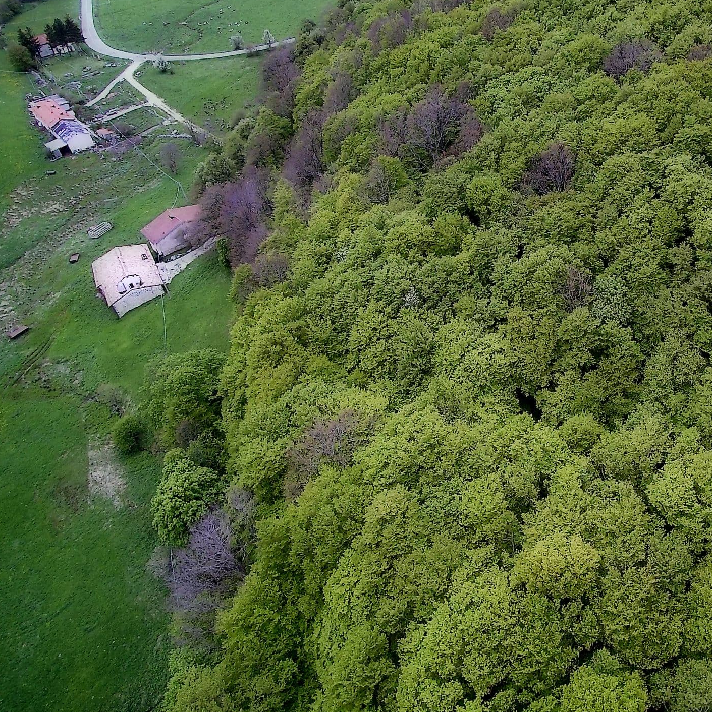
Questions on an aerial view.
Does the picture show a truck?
No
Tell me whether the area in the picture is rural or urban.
rural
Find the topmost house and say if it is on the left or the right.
left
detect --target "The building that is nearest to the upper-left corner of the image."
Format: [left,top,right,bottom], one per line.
[30,34,91,59]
